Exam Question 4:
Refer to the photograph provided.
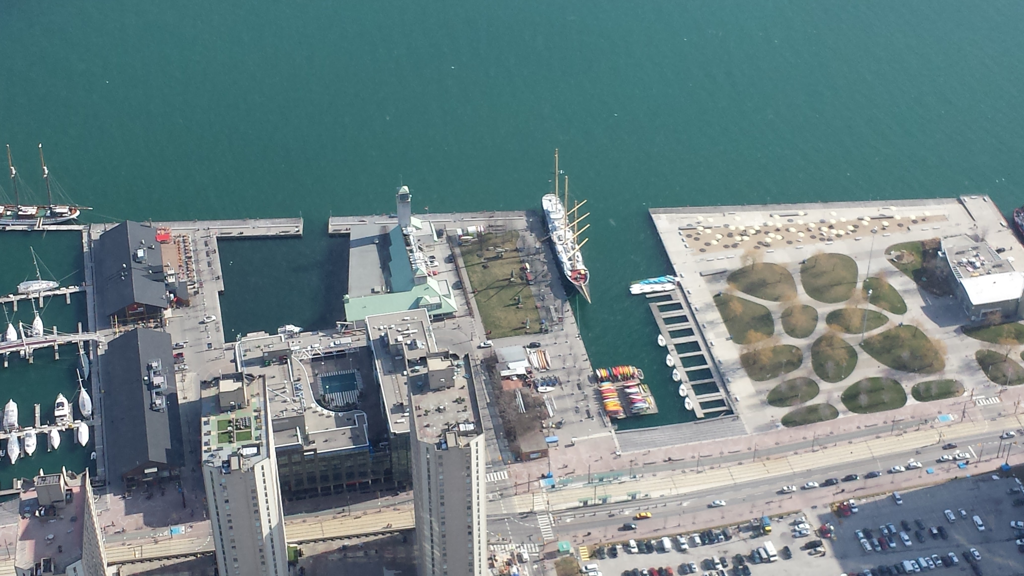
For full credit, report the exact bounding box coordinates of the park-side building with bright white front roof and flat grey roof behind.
[937,234,1024,322]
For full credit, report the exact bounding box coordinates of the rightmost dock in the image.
[646,292,734,419]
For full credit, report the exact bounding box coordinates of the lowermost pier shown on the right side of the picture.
[596,373,658,420]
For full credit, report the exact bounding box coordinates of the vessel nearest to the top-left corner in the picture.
[0,149,93,220]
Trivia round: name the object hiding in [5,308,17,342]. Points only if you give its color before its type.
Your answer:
white boat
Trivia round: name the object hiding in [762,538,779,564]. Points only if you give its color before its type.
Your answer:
white vehicle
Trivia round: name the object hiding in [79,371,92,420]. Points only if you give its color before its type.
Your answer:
white boat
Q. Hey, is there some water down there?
Yes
